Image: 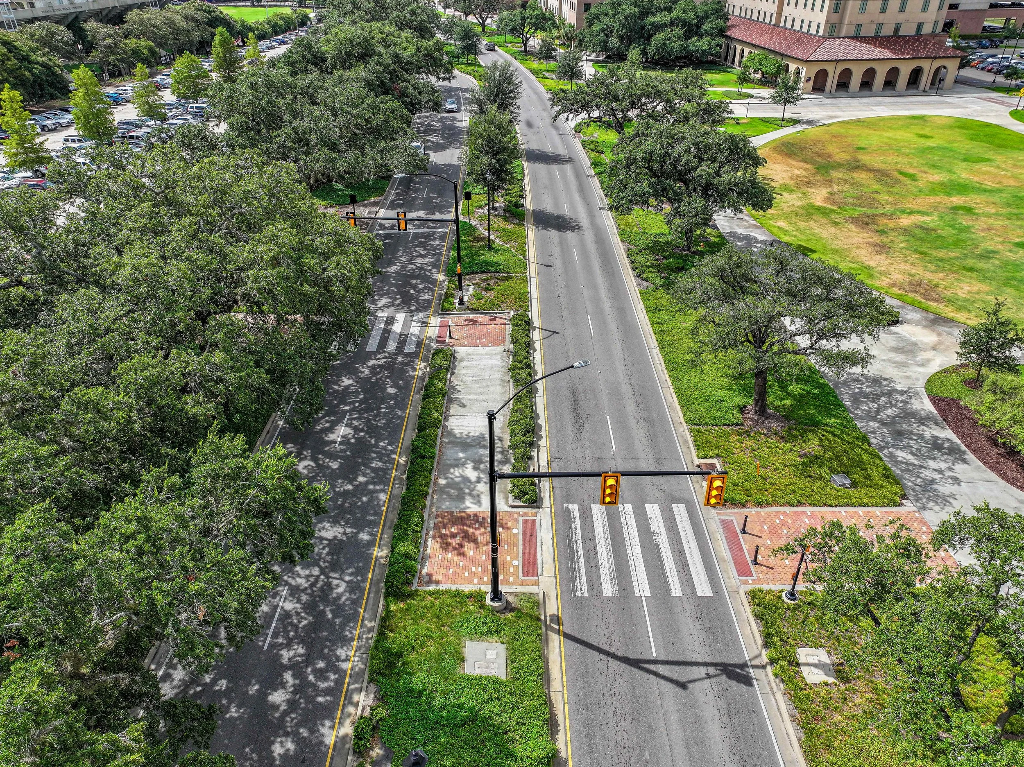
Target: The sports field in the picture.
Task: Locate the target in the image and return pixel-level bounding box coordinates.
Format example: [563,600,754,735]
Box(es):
[224,3,285,23]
